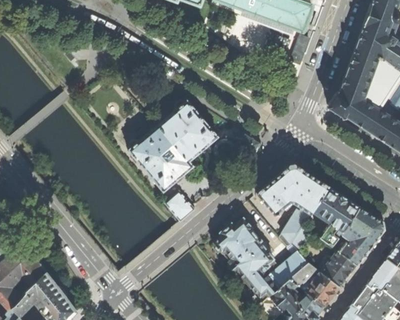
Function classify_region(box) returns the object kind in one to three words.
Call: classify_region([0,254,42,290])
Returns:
house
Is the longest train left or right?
left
